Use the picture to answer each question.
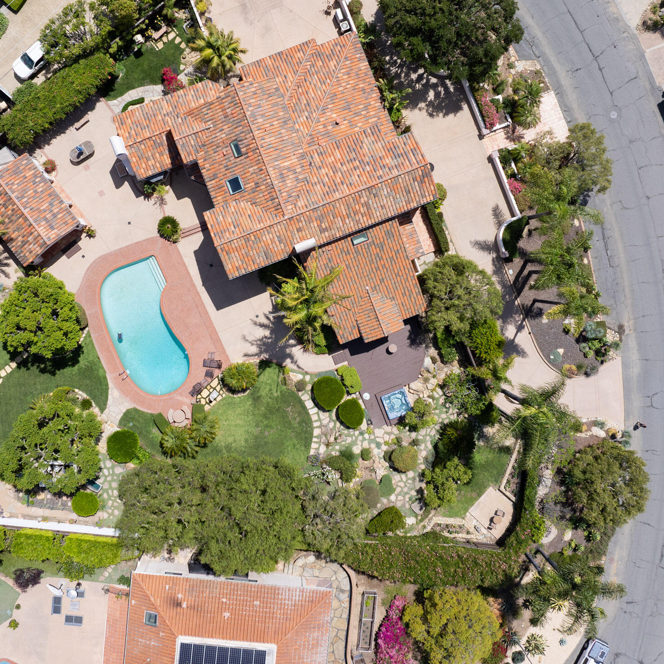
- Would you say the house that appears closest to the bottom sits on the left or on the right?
left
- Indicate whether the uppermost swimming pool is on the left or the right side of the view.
left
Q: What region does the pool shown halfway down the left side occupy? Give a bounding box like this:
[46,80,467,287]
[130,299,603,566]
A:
[100,257,189,396]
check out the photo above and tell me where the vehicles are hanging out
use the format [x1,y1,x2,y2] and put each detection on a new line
[14,29,58,84]
[572,633,609,664]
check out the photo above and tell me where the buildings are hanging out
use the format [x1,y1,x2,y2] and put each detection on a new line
[107,31,438,345]
[123,545,334,664]
[0,153,93,266]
